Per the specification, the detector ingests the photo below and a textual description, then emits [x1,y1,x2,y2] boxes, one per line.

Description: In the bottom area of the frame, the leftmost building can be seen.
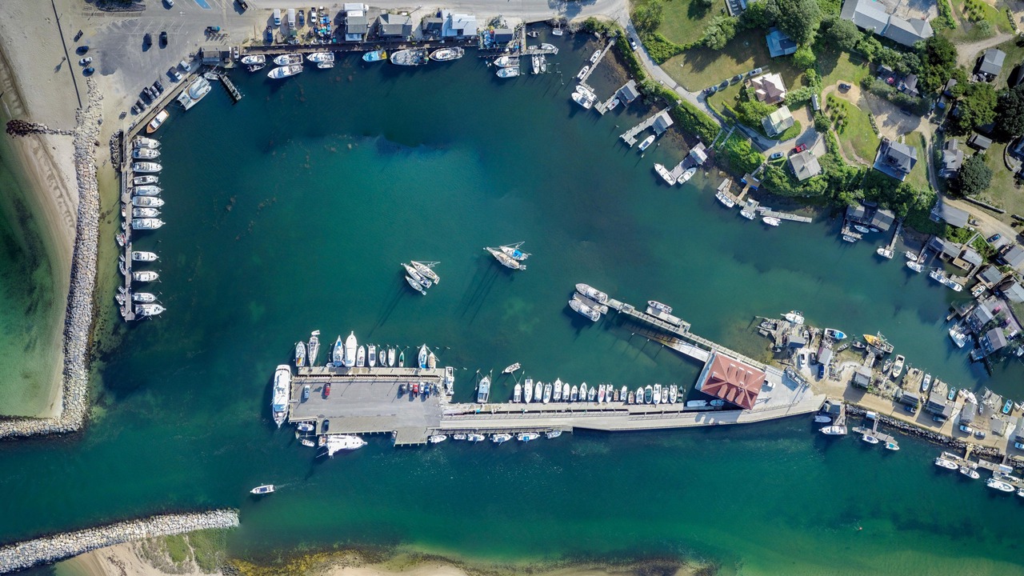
[693,351,766,409]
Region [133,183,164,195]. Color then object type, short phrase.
white boat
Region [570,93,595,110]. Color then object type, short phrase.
white boat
